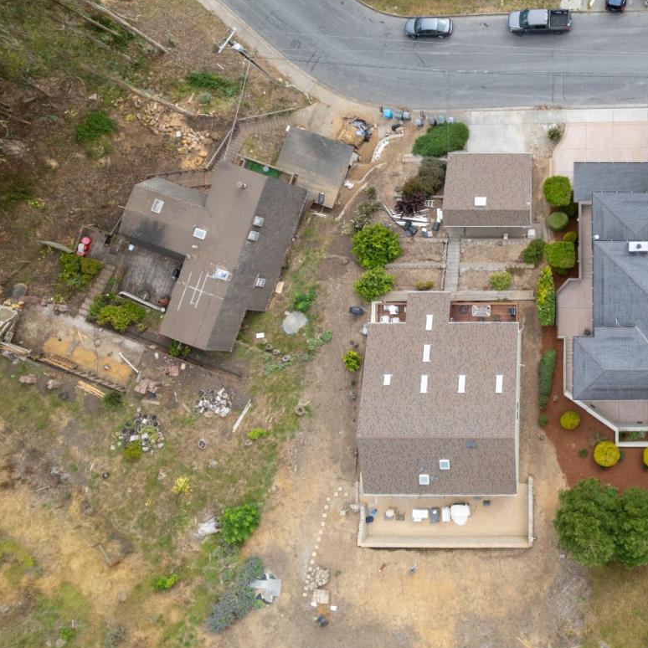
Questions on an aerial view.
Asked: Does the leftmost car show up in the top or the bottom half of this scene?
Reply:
top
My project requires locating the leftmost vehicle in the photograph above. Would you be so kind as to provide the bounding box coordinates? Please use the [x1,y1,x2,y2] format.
[404,13,452,38]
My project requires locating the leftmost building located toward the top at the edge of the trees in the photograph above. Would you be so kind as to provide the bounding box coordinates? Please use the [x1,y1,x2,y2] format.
[82,160,313,351]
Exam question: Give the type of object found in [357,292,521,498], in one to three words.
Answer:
house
